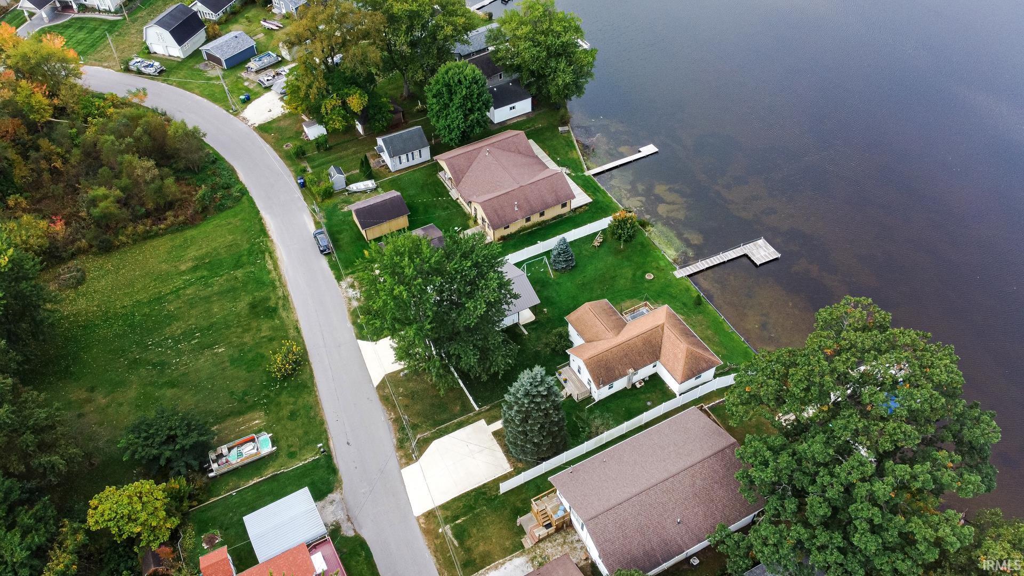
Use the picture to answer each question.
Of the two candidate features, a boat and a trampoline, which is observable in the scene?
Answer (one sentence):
There is a boat in the scene.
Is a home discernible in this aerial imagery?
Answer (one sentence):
Yes, this view includes a home.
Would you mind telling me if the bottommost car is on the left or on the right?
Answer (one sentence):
You can find the bottommost car on the left side of the picture.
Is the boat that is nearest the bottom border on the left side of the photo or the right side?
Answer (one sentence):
The boat that is nearest the bottom border appears in the left half of the scene.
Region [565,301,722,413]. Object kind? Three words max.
house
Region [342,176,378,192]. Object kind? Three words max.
boat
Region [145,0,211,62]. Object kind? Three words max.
barn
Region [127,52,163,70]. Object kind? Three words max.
boat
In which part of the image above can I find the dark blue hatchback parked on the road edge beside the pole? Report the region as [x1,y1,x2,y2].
[311,229,333,255]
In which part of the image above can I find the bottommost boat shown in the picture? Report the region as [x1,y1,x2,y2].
[202,436,276,479]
